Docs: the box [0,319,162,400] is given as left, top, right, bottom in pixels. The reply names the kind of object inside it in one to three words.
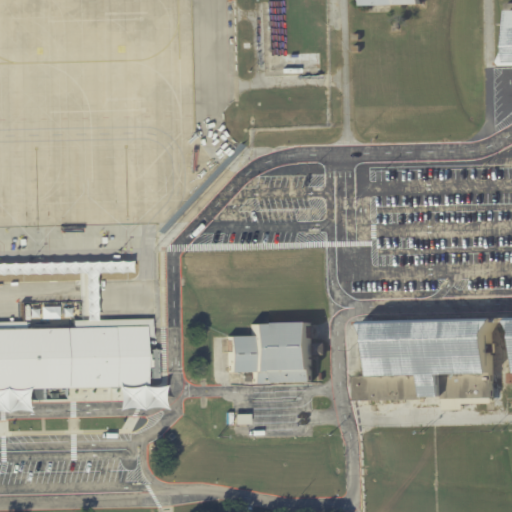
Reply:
building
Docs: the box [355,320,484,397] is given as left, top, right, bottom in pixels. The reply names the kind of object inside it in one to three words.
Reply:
building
